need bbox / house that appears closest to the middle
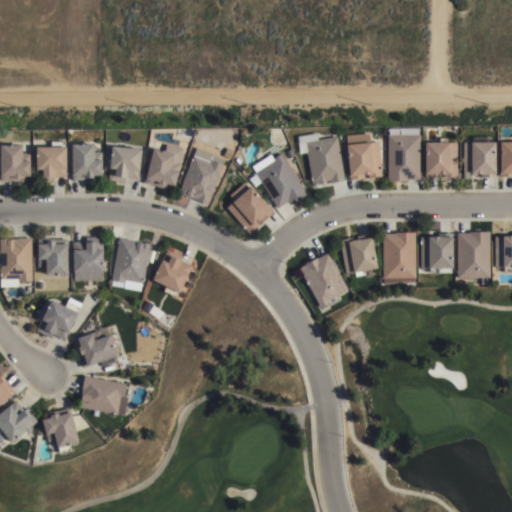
[228,183,272,230]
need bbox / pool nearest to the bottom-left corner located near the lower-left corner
[38,439,53,461]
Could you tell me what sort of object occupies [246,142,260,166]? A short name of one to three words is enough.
swimming pool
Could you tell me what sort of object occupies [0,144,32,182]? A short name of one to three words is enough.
house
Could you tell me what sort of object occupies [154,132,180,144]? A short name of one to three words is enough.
swimming pool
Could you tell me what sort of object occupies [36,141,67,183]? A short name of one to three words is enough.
house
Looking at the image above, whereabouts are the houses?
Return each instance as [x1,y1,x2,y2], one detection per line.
[76,330,119,364]
[388,128,422,182]
[464,137,498,177]
[36,141,67,183]
[72,236,108,281]
[146,142,183,186]
[502,142,512,178]
[154,248,196,297]
[40,410,81,454]
[420,236,455,274]
[38,239,69,276]
[72,144,103,180]
[383,236,416,284]
[228,183,272,230]
[298,134,344,183]
[37,298,82,340]
[342,238,379,278]
[496,236,512,272]
[348,134,384,182]
[0,238,32,288]
[108,147,142,184]
[0,144,32,182]
[300,254,348,312]
[184,149,227,204]
[112,238,150,292]
[249,154,306,207]
[0,400,35,444]
[458,232,492,284]
[426,142,458,178]
[82,376,127,416]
